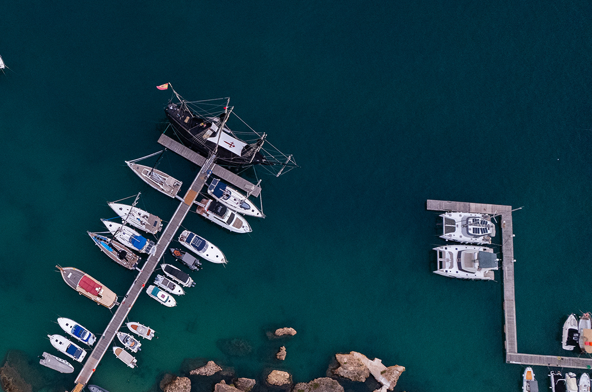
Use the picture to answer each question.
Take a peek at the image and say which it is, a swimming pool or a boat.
boat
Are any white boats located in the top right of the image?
No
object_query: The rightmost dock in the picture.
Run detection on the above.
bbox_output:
[425,200,592,369]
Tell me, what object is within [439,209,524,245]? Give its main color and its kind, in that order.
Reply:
white boat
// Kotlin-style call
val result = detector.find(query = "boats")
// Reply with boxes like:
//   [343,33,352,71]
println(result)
[48,335,87,364]
[92,213,158,256]
[576,314,592,353]
[126,323,157,340]
[117,148,182,198]
[77,226,141,270]
[40,353,74,372]
[197,200,254,234]
[178,232,232,268]
[434,246,508,280]
[88,386,106,392]
[149,271,188,295]
[564,370,578,392]
[117,333,143,352]
[145,285,178,307]
[561,314,577,350]
[169,248,202,272]
[521,367,538,392]
[55,266,122,311]
[114,348,138,368]
[576,373,590,392]
[53,316,98,348]
[104,193,167,234]
[162,265,197,290]
[205,180,271,223]
[548,372,564,392]
[439,209,524,245]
